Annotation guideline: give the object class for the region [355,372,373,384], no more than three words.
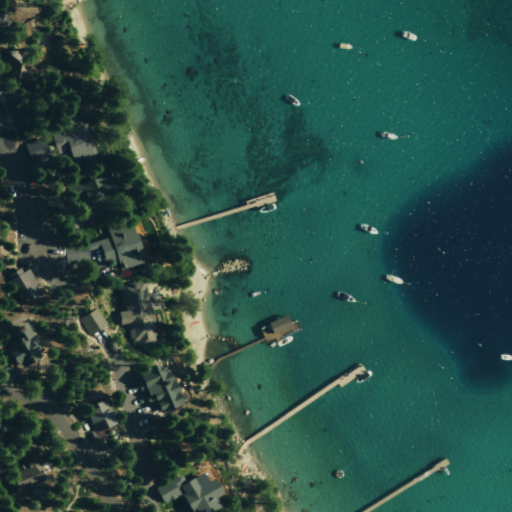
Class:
boat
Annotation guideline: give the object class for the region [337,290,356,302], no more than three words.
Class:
boat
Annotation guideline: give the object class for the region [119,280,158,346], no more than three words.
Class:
house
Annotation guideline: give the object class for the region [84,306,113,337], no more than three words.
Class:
building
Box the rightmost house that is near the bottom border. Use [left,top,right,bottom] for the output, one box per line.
[179,462,232,512]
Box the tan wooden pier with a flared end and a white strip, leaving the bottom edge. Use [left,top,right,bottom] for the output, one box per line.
[359,458,450,512]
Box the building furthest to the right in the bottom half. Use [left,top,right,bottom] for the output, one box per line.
[262,315,302,344]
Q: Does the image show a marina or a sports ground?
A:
marina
